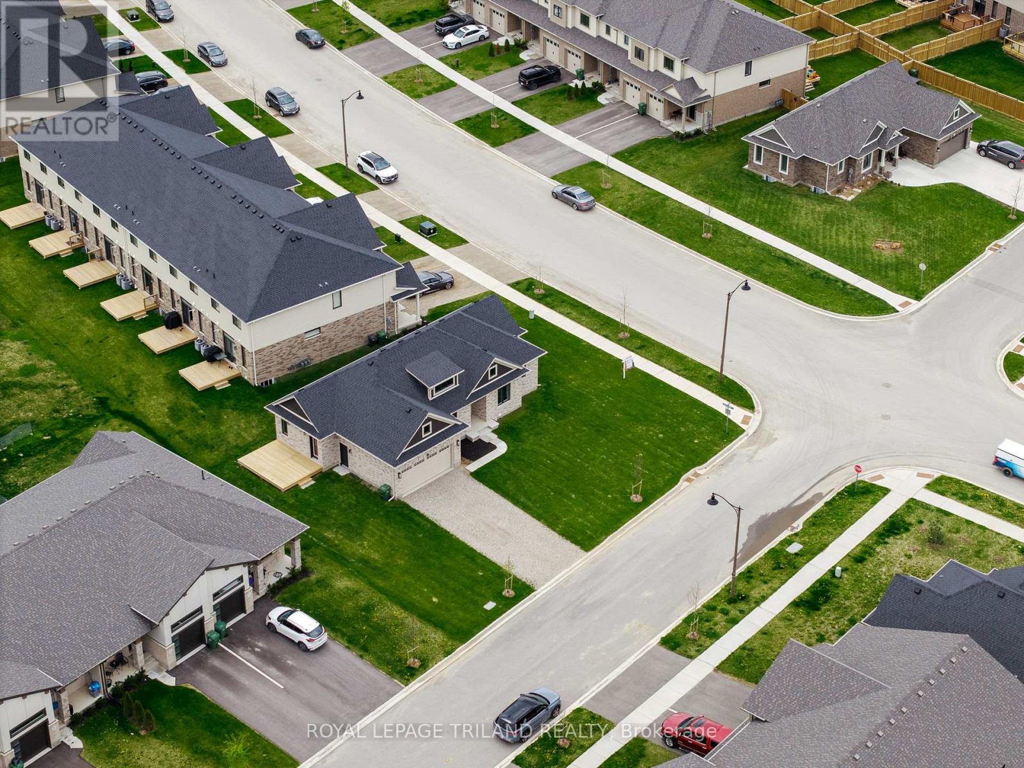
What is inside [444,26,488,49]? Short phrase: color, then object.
white car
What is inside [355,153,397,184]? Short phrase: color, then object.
white car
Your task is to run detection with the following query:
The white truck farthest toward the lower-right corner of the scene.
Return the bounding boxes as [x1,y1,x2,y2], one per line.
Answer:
[993,439,1024,481]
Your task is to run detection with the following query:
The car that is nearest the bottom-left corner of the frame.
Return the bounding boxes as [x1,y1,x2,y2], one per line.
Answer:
[263,606,332,654]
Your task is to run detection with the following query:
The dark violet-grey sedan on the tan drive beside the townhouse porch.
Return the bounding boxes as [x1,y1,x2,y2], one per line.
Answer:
[415,270,459,297]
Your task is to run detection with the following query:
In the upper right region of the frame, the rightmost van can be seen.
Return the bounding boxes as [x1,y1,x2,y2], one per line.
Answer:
[977,140,1024,170]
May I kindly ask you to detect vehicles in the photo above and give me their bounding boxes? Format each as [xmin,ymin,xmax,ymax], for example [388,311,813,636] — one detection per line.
[142,0,175,22]
[431,10,473,34]
[355,153,397,184]
[263,606,332,654]
[658,712,730,759]
[493,689,562,746]
[294,28,328,49]
[136,70,169,92]
[111,38,139,56]
[444,26,488,49]
[194,41,228,66]
[549,183,598,211]
[264,88,300,117]
[148,76,195,98]
[517,64,563,90]
[977,140,1024,170]
[993,439,1024,481]
[415,270,459,297]
[297,184,338,208]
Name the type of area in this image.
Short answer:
residential area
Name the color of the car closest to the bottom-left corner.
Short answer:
white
